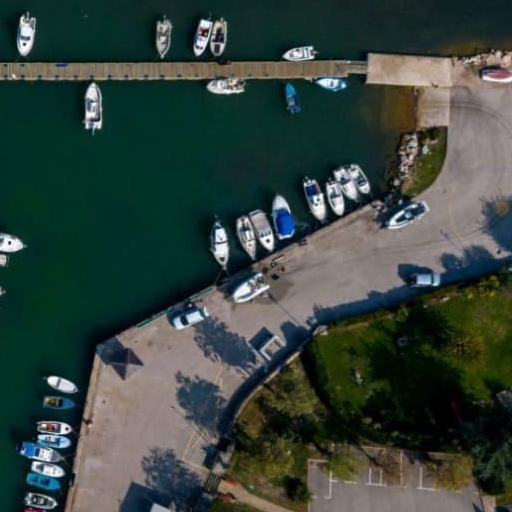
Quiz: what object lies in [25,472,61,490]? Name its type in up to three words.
boat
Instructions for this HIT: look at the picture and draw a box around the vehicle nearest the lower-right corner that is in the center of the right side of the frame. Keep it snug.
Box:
[408,270,442,286]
